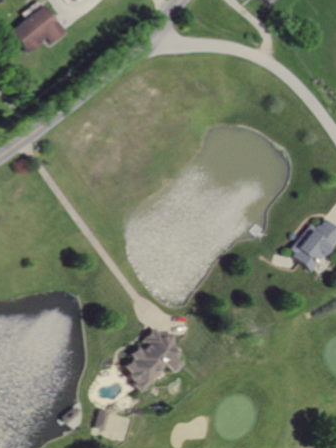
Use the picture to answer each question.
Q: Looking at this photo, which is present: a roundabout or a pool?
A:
pool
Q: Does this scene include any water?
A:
Yes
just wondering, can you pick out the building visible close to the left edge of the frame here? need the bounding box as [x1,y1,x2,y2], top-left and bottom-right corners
[14,1,67,52]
